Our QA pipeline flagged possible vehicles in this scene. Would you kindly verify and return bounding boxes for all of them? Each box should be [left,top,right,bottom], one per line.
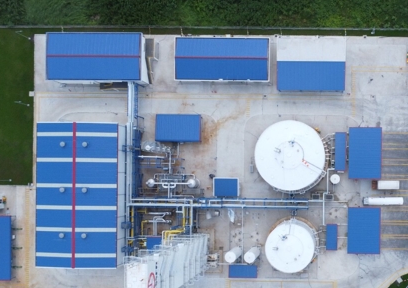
[362,196,403,207]
[370,180,399,190]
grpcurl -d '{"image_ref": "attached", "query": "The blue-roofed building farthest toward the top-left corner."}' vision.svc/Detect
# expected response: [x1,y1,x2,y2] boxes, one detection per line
[45,31,146,84]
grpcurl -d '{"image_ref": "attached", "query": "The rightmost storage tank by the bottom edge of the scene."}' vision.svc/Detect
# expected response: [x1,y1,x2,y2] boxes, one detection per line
[264,217,327,274]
